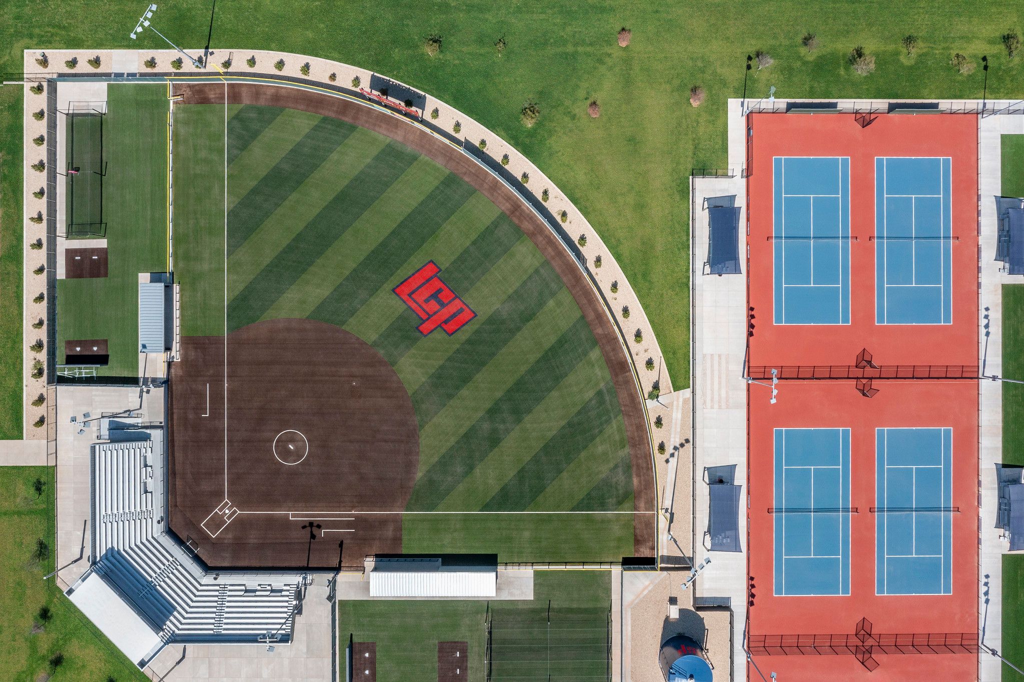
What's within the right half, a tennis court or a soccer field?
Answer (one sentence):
Visible within the right half is a tennis court.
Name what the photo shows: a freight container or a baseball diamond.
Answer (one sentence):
Looking from above, you can make out a baseball diamond.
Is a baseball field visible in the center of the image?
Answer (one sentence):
Yes, there is a baseball field in the center of the image.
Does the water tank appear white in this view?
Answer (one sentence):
No, the color of the water tank is blue.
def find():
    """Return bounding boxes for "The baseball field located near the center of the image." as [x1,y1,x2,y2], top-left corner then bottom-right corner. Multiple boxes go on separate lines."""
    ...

[167,82,656,570]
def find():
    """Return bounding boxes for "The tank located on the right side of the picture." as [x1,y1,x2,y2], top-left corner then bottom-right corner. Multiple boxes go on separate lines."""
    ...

[658,634,714,682]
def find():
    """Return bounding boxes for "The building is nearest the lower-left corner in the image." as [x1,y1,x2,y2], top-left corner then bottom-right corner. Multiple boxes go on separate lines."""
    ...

[64,552,184,669]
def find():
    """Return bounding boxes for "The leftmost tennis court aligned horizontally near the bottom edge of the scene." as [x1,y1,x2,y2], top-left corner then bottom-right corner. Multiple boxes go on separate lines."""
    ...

[746,647,863,682]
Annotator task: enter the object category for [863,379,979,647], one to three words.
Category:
tennis court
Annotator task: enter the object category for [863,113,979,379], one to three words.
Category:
tennis court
